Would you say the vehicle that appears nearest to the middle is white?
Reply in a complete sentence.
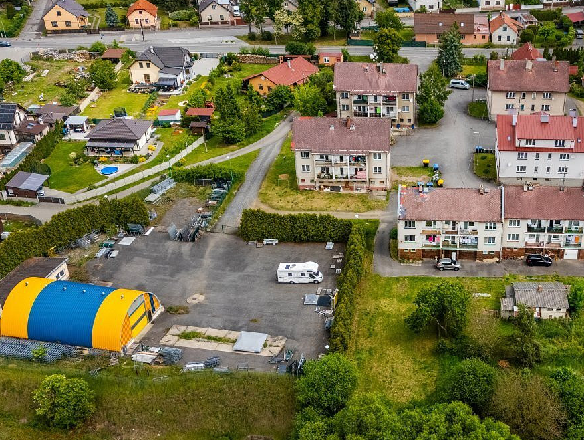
Yes, white is the color of the vehicle that appears nearest to the middle.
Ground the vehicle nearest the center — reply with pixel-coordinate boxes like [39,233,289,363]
[275,264,323,287]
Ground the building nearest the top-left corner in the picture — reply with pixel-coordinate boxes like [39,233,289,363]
[40,0,89,30]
